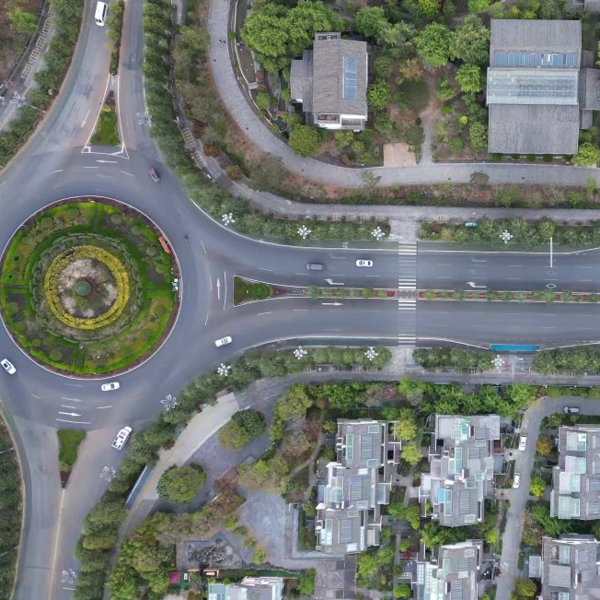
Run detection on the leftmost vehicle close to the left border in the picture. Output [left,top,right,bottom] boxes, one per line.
[1,358,15,374]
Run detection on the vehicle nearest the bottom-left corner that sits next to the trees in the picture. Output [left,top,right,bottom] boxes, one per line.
[112,426,131,450]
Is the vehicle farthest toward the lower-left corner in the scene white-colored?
Yes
